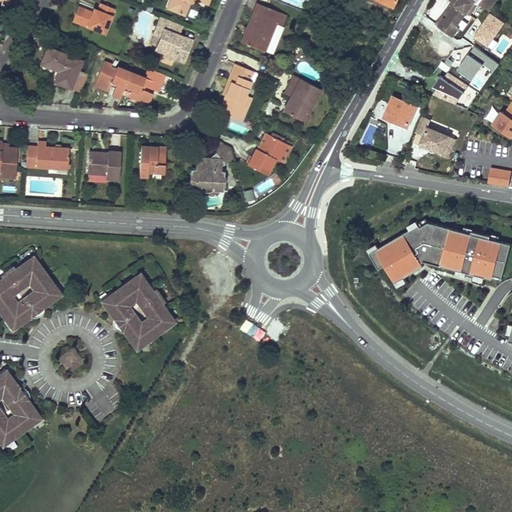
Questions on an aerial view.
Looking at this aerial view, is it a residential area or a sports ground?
residential area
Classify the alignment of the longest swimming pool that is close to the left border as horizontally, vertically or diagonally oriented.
horizontally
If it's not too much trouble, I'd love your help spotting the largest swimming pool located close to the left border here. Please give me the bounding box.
[25,176,64,198]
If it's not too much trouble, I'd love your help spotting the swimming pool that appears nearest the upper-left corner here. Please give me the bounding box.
[132,10,156,46]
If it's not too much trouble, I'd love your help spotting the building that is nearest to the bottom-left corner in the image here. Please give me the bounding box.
[0,370,43,450]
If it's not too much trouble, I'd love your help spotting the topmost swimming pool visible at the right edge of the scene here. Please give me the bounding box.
[490,36,512,58]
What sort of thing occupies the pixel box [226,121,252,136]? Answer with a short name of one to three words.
swimming pool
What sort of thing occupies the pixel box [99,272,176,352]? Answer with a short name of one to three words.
building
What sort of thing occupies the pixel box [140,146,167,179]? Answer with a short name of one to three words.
house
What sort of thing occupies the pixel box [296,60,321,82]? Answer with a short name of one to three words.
swimming pool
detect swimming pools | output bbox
[226,121,252,136]
[296,60,321,82]
[25,176,64,198]
[206,193,225,210]
[490,36,512,58]
[1,184,18,194]
[254,175,278,200]
[282,0,304,8]
[360,122,379,144]
[132,10,156,46]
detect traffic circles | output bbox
[236,214,323,308]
